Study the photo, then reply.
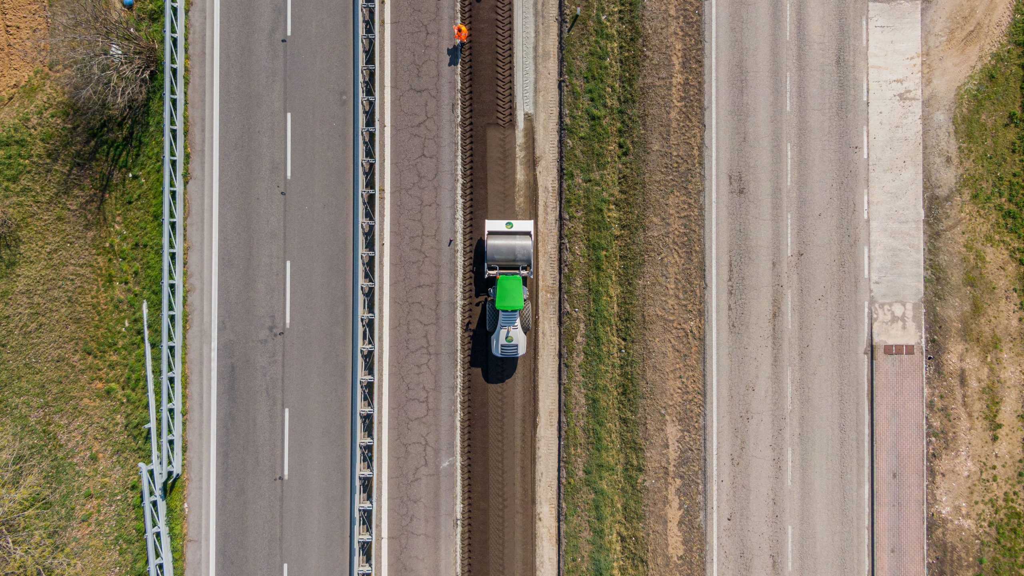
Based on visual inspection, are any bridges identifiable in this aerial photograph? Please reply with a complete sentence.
No, there isn't any bridge down there.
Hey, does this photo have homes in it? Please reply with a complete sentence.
No, I find no home anywhere in the image.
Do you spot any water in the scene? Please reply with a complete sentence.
No, there is no water in the image.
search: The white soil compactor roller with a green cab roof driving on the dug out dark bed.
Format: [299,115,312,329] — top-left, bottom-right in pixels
[480,220,533,357]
